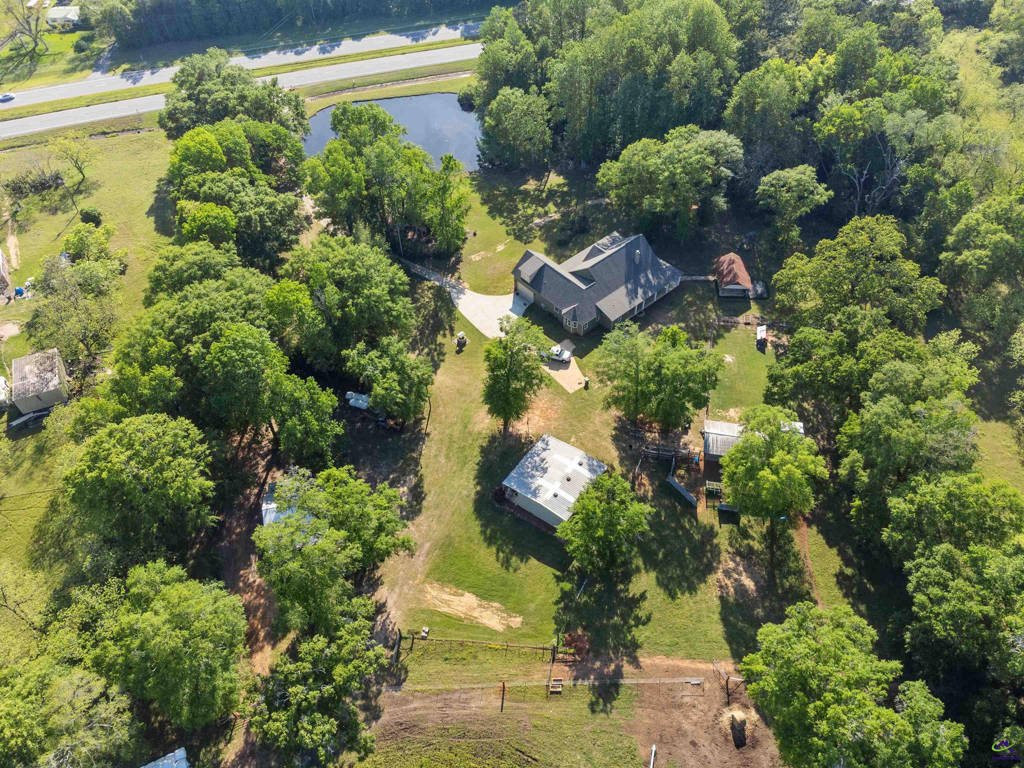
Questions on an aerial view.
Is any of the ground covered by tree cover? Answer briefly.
Yes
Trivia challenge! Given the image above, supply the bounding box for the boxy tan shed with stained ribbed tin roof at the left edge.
[11,348,67,412]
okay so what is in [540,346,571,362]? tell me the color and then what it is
white vehicle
